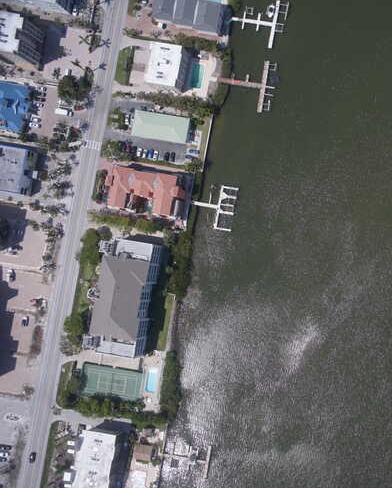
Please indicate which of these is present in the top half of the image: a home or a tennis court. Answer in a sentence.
Visible in the top half of the image is a home.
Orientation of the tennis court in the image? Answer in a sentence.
From this overhead view, the tennis court appears to run from side to side.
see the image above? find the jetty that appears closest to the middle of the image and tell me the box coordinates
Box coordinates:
[196,184,240,232]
